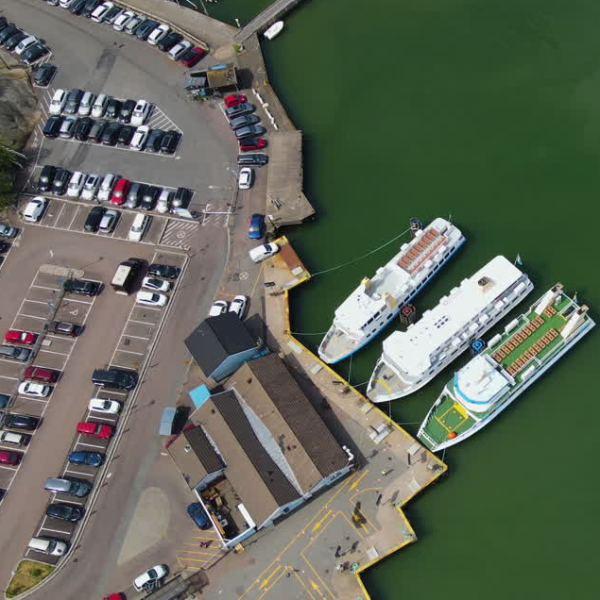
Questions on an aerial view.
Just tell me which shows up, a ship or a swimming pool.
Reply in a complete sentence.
There is a ship in the scene.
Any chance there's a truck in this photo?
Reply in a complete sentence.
Yes, looking at the shot, I can spot a truck.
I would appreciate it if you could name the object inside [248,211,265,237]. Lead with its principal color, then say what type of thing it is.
blue car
